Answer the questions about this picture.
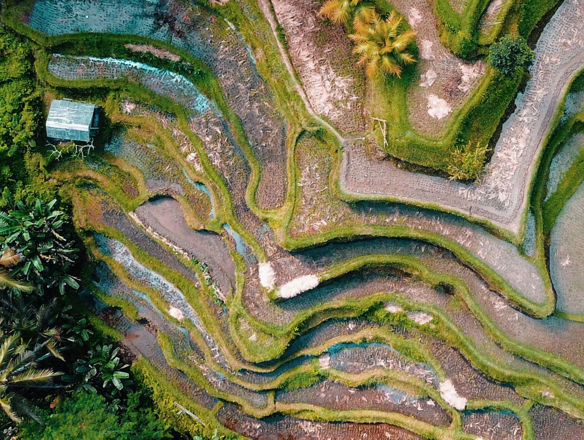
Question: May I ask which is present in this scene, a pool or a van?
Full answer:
The image shows a pool.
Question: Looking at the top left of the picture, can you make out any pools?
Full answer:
Yes, the scene does show a pool at the top left of the picture.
